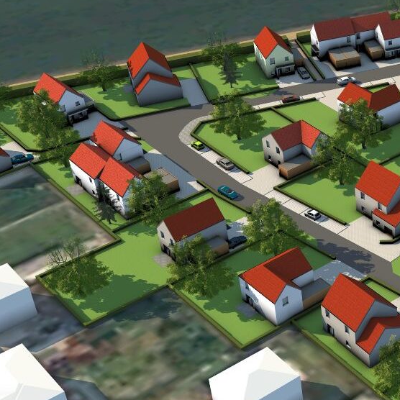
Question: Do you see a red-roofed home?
Yes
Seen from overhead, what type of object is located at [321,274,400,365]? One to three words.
house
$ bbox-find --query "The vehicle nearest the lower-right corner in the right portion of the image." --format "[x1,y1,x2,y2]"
[303,209,322,221]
